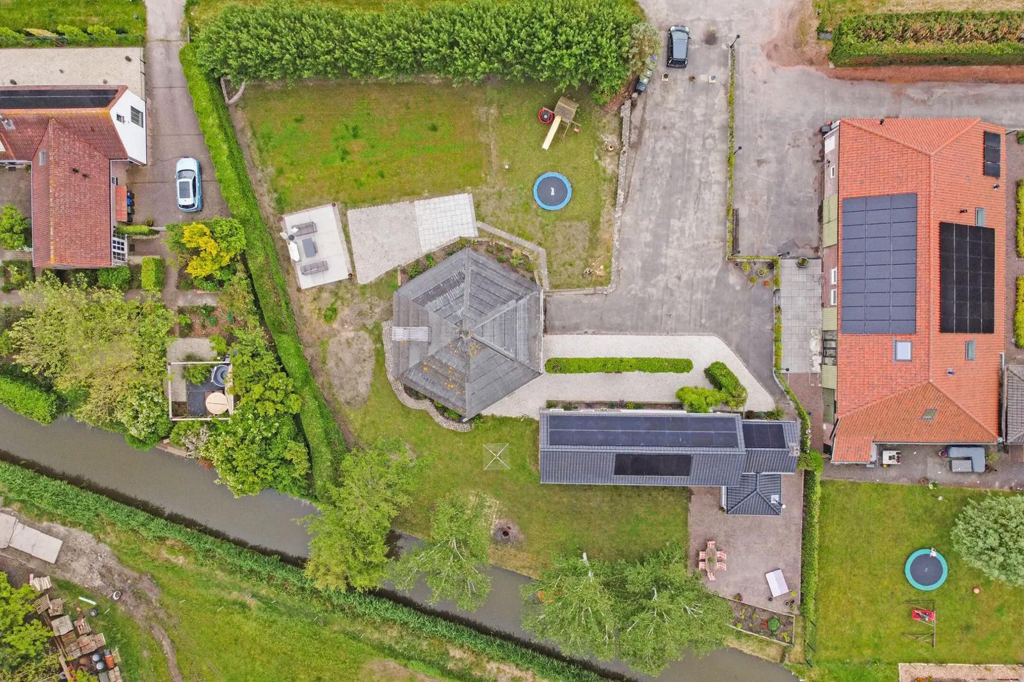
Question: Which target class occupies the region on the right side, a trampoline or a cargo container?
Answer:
trampoline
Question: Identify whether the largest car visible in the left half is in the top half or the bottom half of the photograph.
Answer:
top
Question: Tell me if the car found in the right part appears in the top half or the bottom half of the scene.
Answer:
top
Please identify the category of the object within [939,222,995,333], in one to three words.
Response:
solar array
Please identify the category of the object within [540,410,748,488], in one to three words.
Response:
barn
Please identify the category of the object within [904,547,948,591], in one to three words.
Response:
trampoline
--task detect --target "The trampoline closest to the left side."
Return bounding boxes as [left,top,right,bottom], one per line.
[533,171,572,210]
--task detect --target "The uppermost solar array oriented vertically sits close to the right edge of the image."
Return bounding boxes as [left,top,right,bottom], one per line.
[983,131,1001,176]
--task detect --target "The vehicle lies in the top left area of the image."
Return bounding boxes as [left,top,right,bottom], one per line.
[174,159,204,211]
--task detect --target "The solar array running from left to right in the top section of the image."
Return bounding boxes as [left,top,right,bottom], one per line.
[0,88,120,109]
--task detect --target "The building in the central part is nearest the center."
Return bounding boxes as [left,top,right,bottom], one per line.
[390,243,546,421]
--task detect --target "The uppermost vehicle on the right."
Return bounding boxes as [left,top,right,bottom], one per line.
[668,25,693,69]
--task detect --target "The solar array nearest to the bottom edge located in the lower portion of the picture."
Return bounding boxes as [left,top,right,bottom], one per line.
[614,454,692,476]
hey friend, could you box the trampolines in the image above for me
[904,547,948,591]
[533,171,572,210]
